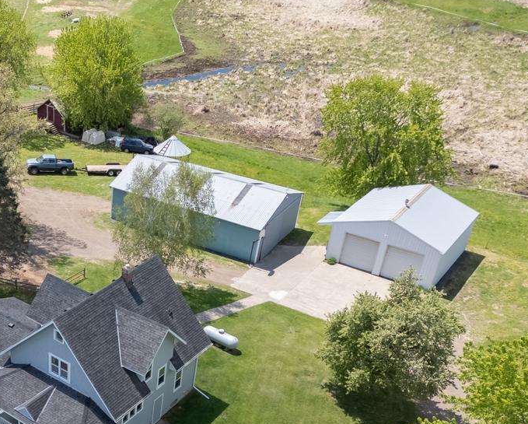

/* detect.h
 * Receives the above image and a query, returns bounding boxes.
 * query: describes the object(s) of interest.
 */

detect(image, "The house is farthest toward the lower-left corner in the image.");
[0,257,216,424]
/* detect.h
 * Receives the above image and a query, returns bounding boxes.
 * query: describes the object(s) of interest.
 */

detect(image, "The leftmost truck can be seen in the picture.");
[25,151,76,174]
